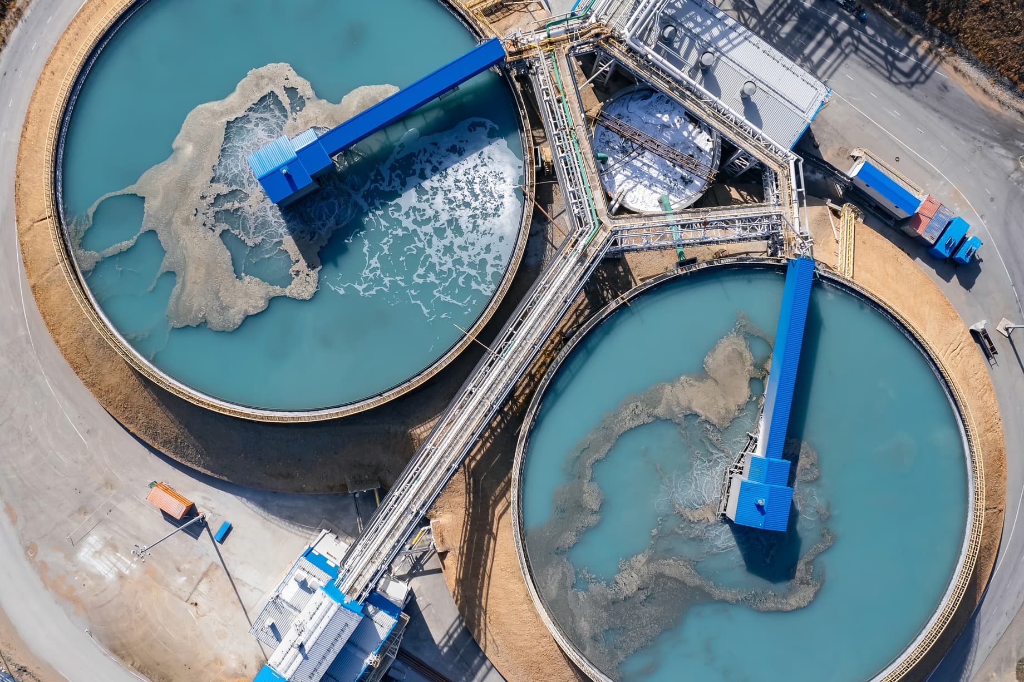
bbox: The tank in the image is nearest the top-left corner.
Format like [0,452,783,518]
[43,0,536,424]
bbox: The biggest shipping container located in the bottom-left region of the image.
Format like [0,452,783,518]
[146,483,194,520]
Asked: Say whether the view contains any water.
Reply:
Yes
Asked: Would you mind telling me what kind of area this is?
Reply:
industrial area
